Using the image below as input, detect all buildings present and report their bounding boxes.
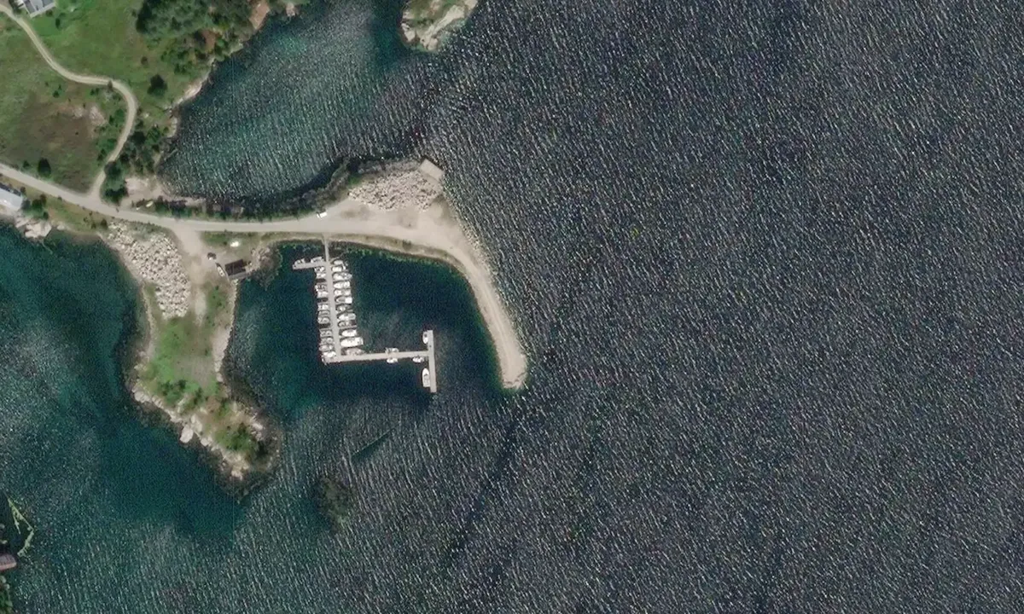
[226,259,245,275]
[0,185,23,215]
[0,553,14,568]
[25,0,56,18]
